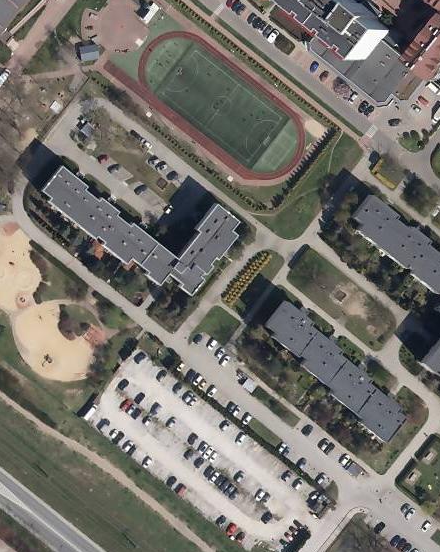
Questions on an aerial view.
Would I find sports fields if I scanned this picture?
Yes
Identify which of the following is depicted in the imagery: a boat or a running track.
running track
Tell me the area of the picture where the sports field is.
top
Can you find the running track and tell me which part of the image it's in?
top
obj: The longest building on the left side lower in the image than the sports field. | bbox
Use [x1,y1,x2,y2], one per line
[44,166,247,294]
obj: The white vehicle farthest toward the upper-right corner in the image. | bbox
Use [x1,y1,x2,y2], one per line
[425,80,440,94]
